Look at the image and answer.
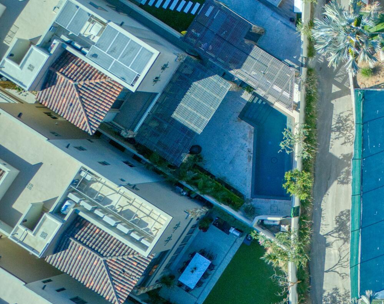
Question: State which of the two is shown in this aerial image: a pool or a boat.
pool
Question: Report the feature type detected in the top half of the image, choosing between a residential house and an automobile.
residential house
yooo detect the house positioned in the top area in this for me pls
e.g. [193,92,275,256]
[0,0,217,144]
